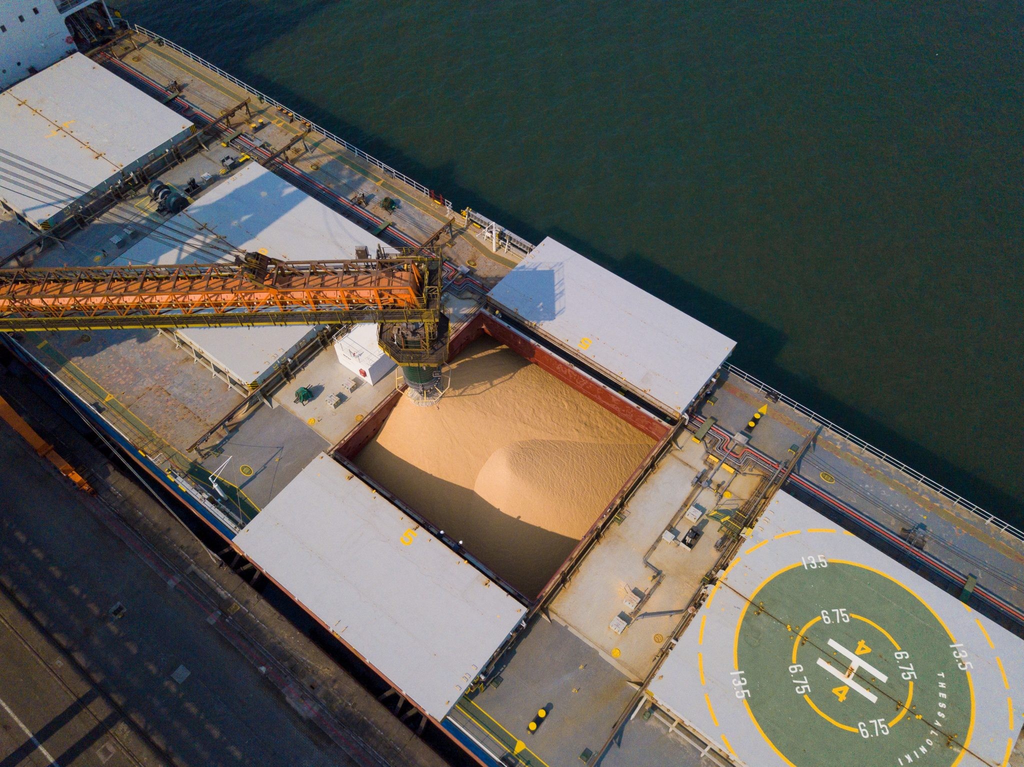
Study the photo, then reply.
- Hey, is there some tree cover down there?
No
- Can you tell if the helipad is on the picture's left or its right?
right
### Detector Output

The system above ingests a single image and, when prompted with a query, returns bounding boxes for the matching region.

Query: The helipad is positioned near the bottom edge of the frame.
[699,528,1013,767]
